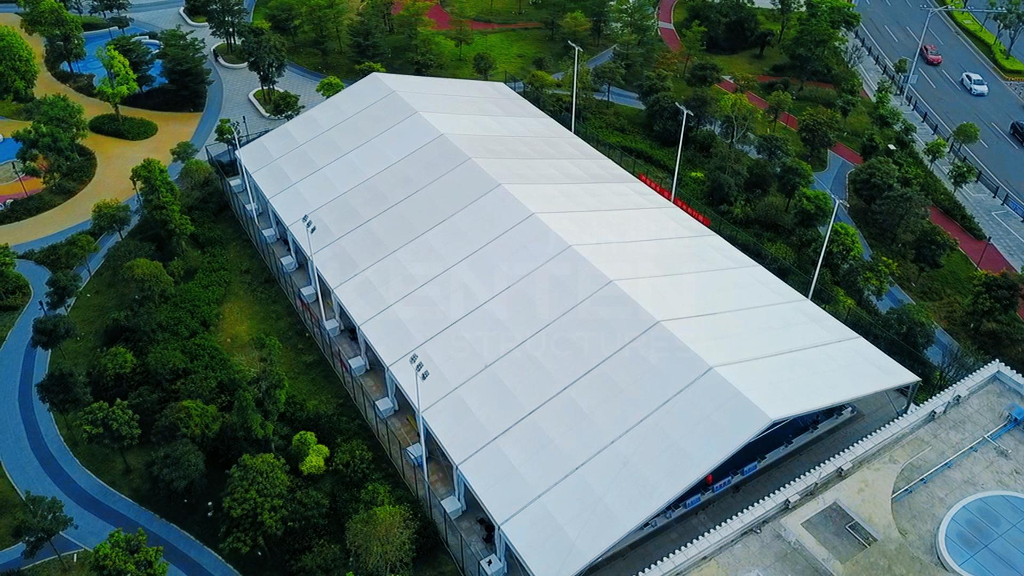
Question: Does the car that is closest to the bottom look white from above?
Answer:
No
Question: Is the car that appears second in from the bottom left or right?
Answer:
right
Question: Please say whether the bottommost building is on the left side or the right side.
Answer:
right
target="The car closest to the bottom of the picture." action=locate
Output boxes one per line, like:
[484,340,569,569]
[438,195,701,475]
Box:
[1004,119,1024,143]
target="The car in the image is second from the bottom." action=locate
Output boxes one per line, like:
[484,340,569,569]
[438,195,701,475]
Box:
[960,74,989,95]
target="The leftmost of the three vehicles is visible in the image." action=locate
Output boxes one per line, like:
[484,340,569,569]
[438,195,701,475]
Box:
[920,46,944,65]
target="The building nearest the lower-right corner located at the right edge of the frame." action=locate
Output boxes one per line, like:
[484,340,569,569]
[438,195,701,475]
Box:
[635,359,1024,576]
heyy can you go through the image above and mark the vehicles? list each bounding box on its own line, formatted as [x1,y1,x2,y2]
[920,46,944,65]
[1004,119,1024,143]
[960,74,989,95]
